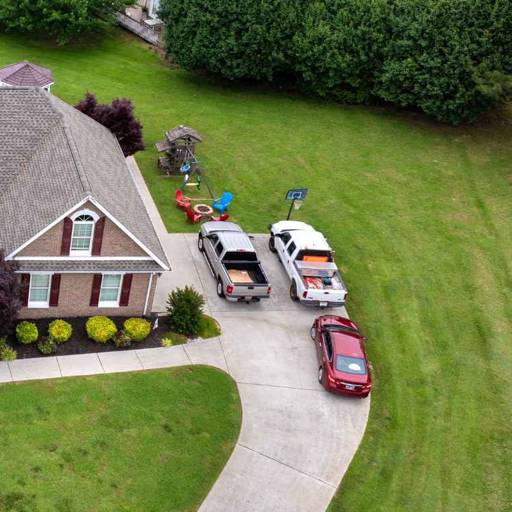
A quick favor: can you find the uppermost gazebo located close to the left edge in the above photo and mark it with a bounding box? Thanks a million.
[0,57,54,93]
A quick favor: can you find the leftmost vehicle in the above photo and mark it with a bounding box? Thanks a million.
[196,220,274,305]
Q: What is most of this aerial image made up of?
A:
grass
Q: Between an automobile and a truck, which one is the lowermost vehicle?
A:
automobile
